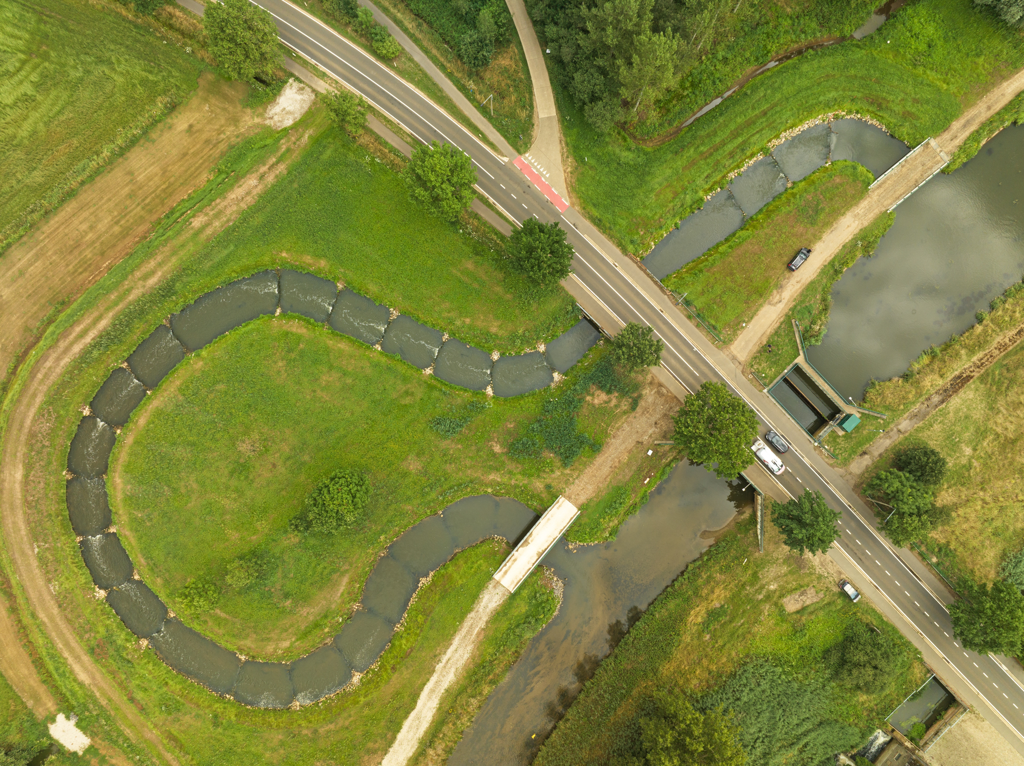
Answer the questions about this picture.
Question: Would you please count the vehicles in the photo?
4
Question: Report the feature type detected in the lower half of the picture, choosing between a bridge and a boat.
bridge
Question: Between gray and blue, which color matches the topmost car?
gray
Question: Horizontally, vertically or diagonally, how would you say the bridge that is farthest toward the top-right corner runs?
diagonally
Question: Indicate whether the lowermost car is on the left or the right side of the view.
right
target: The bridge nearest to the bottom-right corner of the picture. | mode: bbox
[713,390,814,551]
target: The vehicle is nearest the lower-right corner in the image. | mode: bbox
[836,579,860,603]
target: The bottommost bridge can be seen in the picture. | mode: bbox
[492,495,580,594]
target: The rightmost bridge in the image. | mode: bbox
[868,135,954,212]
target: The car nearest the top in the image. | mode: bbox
[786,247,810,273]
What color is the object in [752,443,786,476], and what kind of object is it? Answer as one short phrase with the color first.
white van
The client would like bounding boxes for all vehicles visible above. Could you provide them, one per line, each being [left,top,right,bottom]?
[786,247,810,273]
[764,431,789,455]
[836,579,860,603]
[752,443,786,476]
